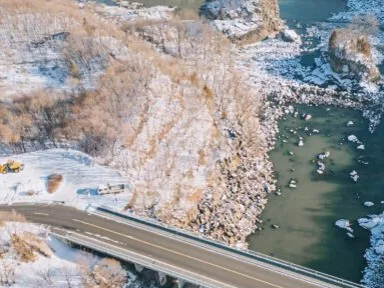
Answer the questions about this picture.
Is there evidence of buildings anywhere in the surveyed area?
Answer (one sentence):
No, I can't see a single building in this photo.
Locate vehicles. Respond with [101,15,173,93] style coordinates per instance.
[98,180,124,194]
[0,157,28,174]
